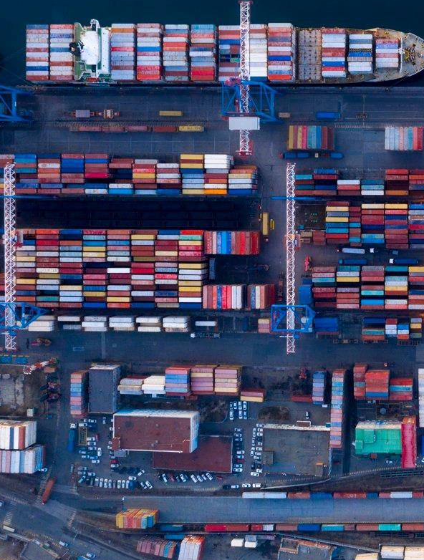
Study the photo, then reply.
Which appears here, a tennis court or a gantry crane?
gantry crane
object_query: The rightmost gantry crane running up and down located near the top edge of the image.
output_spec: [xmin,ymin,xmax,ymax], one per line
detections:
[220,0,285,154]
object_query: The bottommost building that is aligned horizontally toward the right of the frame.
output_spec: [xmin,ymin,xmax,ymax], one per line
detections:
[278,536,335,560]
